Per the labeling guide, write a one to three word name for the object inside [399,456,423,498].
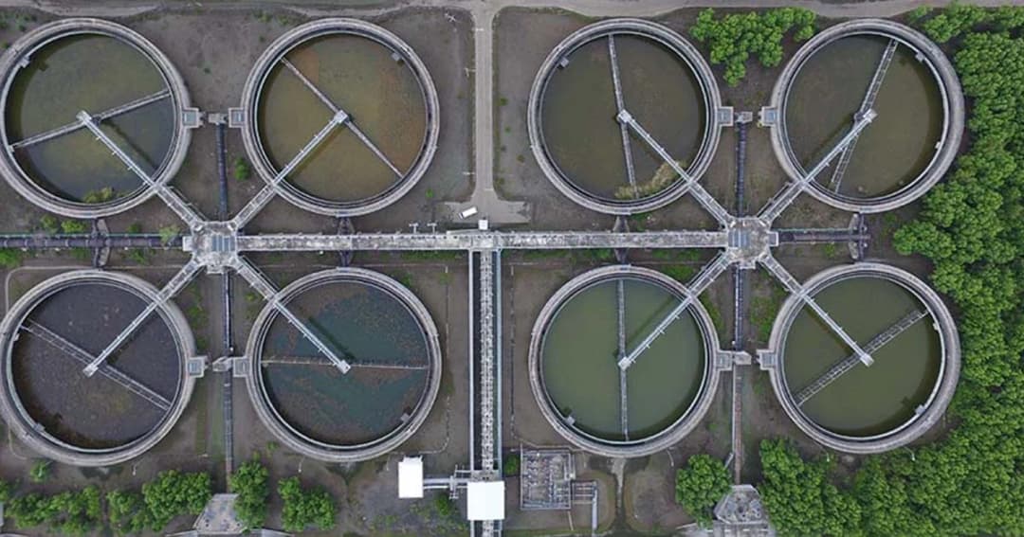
shed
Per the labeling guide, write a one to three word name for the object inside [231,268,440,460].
storage tank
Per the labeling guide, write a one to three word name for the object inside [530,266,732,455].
storage tank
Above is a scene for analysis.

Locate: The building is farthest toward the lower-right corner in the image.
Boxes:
[674,481,772,537]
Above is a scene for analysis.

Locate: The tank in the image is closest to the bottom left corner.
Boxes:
[0,270,208,464]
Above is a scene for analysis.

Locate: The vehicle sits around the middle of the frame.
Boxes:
[459,206,479,219]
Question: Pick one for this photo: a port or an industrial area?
industrial area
